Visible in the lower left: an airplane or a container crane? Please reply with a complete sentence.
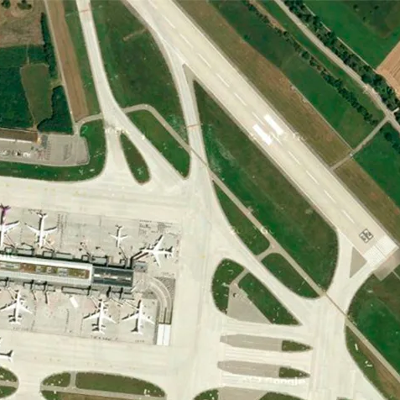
Visible in the lower left is an airplane.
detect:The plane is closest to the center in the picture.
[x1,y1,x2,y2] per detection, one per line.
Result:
[142,237,173,267]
